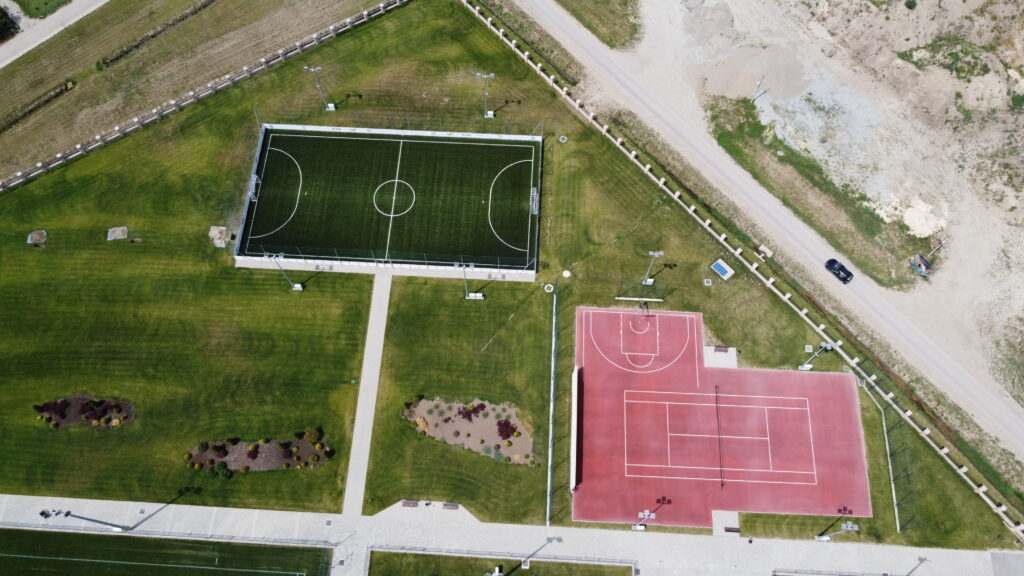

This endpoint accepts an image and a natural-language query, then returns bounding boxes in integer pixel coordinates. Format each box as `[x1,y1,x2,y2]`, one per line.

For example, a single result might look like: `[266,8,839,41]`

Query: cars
[825,259,855,285]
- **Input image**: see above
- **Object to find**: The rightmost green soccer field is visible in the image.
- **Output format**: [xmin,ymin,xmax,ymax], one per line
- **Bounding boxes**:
[239,129,541,270]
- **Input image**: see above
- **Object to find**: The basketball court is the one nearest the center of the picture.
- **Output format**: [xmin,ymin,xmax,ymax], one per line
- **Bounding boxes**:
[574,307,706,387]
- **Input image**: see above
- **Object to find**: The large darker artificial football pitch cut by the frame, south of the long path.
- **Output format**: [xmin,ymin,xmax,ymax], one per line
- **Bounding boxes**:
[0,530,320,576]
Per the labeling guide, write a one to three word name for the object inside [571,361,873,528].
tennis court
